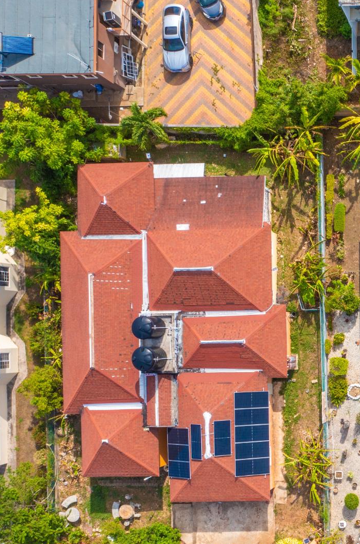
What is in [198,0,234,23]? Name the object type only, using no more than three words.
car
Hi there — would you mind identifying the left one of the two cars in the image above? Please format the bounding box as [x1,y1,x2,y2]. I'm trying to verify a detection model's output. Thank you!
[157,0,196,74]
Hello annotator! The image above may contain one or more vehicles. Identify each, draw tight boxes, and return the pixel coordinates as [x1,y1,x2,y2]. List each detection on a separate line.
[198,0,234,23]
[157,0,196,74]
